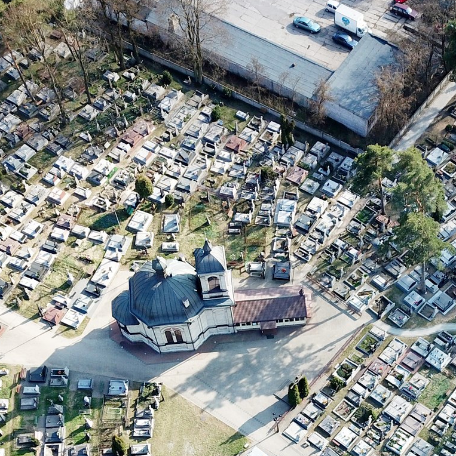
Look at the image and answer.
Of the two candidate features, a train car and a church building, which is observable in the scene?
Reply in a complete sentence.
There is a church building in the scene.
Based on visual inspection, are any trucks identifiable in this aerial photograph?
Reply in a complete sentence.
Yes, you can see a truck in this photo.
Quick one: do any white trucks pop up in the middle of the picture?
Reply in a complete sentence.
No, the scene shows no white truck in the middle of the picture.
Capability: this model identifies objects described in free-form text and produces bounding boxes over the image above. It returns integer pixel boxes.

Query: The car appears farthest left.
[293,14,322,33]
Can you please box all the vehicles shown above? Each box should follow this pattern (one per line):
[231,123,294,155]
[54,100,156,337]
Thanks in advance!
[330,29,359,49]
[324,0,345,14]
[329,3,370,41]
[390,0,415,21]
[293,14,322,33]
